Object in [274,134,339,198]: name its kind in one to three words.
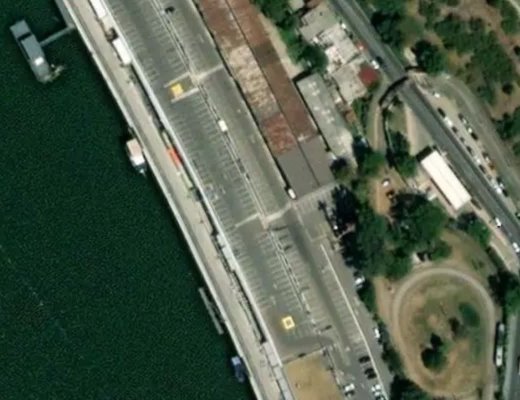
building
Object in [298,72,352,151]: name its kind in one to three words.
building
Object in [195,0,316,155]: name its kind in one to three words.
warehouse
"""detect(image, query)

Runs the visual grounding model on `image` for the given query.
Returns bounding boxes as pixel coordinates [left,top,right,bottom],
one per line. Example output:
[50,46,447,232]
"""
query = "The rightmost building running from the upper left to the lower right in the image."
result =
[421,151,472,209]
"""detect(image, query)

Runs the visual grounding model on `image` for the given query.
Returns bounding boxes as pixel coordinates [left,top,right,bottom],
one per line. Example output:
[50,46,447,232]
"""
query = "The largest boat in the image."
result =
[124,138,146,173]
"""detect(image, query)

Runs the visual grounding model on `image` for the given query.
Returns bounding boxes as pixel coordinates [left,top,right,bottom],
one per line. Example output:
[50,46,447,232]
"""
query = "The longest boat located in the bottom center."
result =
[231,355,244,382]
